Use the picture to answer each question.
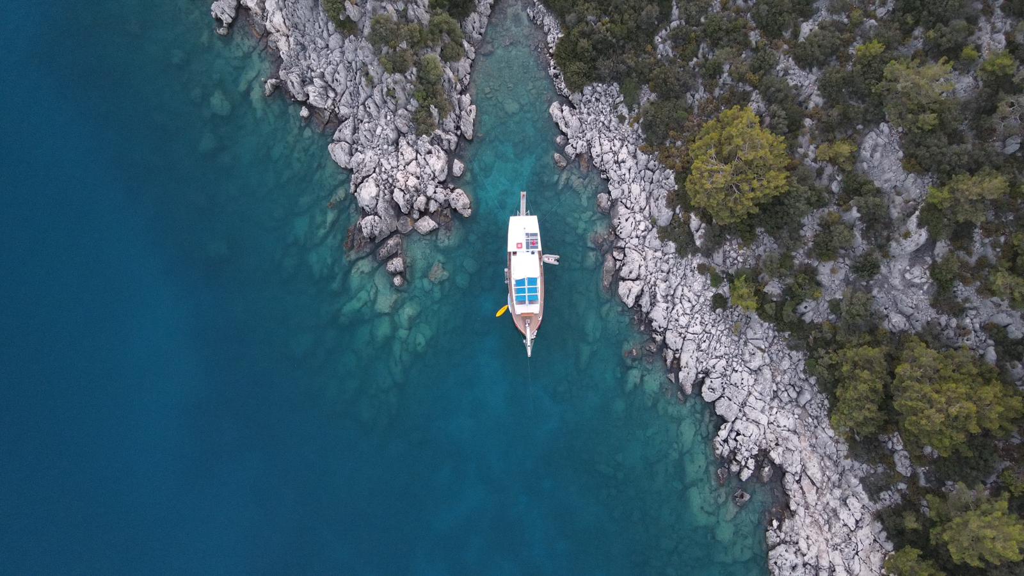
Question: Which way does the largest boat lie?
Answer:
vertically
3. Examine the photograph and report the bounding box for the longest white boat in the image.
[505,191,544,358]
